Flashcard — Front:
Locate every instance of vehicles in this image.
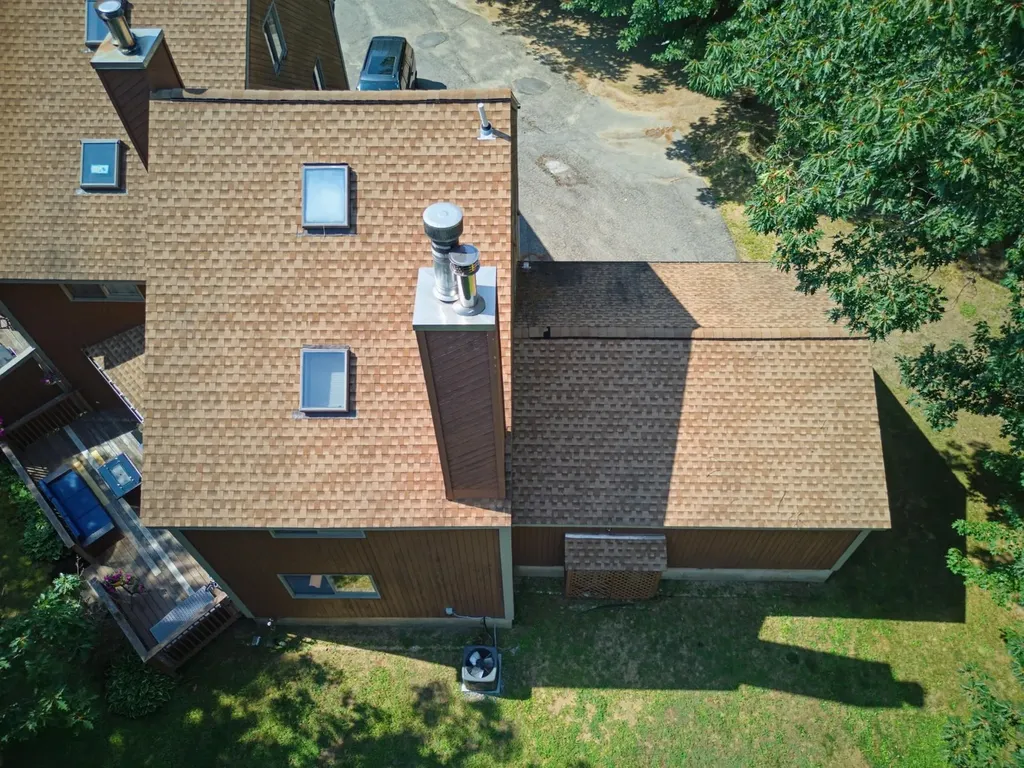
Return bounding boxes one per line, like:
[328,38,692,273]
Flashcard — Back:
[360,39,417,87]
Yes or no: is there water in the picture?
No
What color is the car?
blue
